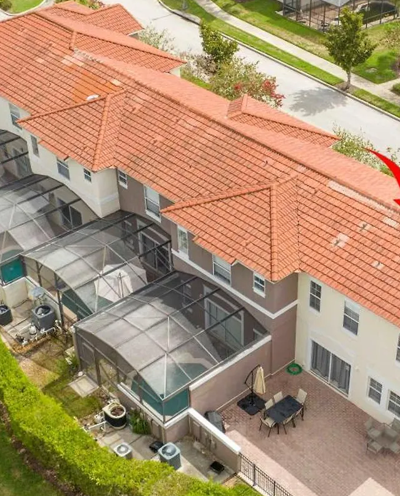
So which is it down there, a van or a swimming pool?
swimming pool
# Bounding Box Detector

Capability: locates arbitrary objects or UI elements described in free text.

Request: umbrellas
[240,365,269,414]
[84,266,143,308]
